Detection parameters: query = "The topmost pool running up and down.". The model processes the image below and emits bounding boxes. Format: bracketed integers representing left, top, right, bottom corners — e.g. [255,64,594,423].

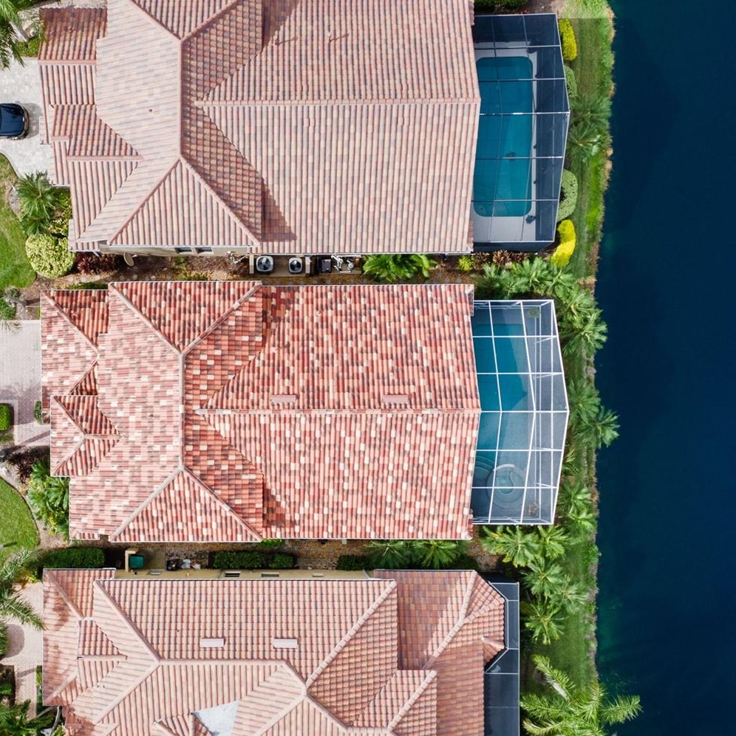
[475,54,534,219]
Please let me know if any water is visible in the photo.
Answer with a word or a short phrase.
Yes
